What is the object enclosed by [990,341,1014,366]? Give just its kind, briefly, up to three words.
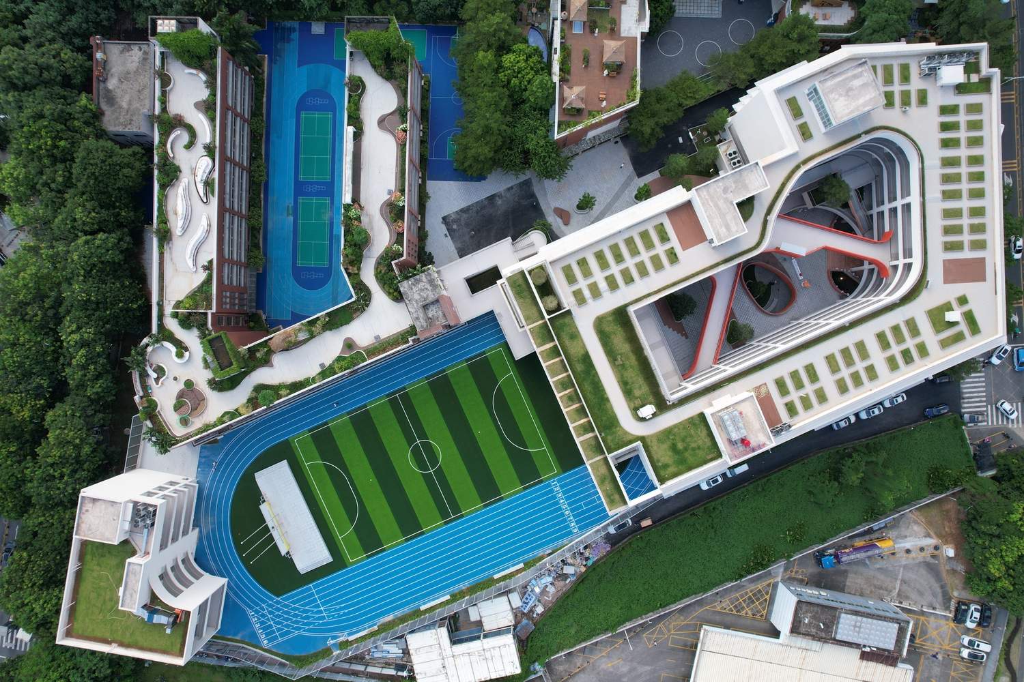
car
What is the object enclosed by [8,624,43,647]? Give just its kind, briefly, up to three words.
truck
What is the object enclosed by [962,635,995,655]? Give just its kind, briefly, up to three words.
vehicle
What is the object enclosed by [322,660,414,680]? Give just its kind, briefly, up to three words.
shed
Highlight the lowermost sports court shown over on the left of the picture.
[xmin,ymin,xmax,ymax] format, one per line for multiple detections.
[297,197,330,267]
